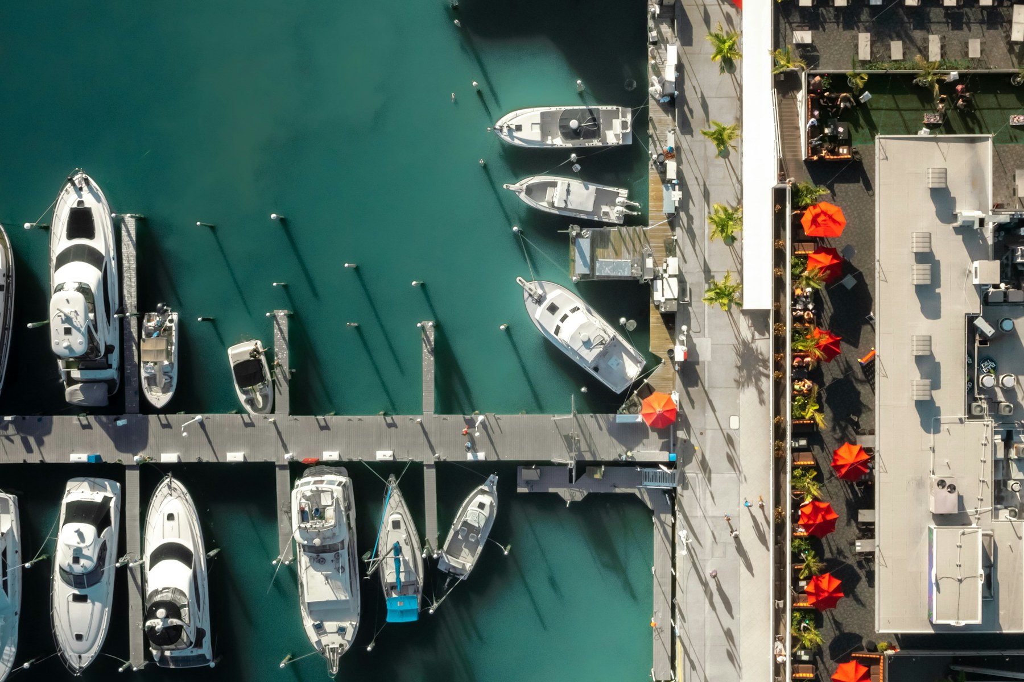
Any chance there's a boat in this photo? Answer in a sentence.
Yes, there is a boat in the image.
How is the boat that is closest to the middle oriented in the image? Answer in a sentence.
In this picture, the boat that is closest to the middle is oriented diagonally.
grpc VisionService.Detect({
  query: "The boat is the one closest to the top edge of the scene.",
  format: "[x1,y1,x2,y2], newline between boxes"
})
[488,105,634,148]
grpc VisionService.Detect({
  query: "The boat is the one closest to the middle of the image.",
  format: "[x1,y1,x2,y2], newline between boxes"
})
[519,281,646,393]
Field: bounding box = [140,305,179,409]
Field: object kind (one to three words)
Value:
boat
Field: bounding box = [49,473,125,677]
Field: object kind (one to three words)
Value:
boat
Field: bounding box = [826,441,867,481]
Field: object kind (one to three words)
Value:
umbrella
